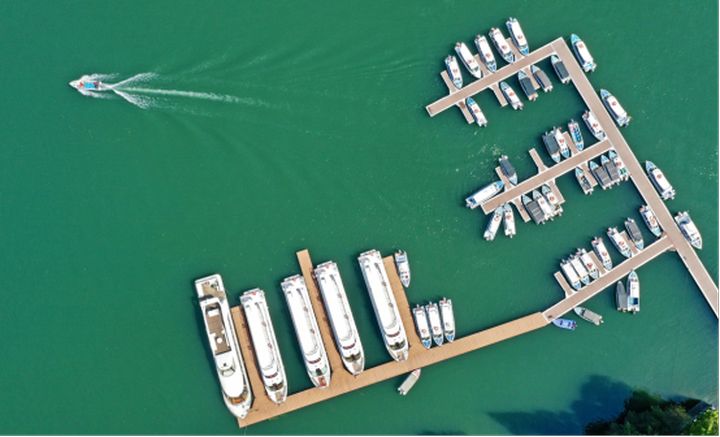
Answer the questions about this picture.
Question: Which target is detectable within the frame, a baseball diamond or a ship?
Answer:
ship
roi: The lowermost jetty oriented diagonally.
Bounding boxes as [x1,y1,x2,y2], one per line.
[544,230,676,322]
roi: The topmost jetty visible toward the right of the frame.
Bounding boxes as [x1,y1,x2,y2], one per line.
[426,37,553,124]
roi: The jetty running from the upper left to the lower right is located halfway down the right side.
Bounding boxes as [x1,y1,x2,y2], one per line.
[551,38,720,322]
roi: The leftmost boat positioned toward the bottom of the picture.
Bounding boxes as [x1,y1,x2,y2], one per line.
[197,274,250,420]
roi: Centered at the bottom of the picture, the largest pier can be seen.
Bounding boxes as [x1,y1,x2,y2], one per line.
[231,248,551,429]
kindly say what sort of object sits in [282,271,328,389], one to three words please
ship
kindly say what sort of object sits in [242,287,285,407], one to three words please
ship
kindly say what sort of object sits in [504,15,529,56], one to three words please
boat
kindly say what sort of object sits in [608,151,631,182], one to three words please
boat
